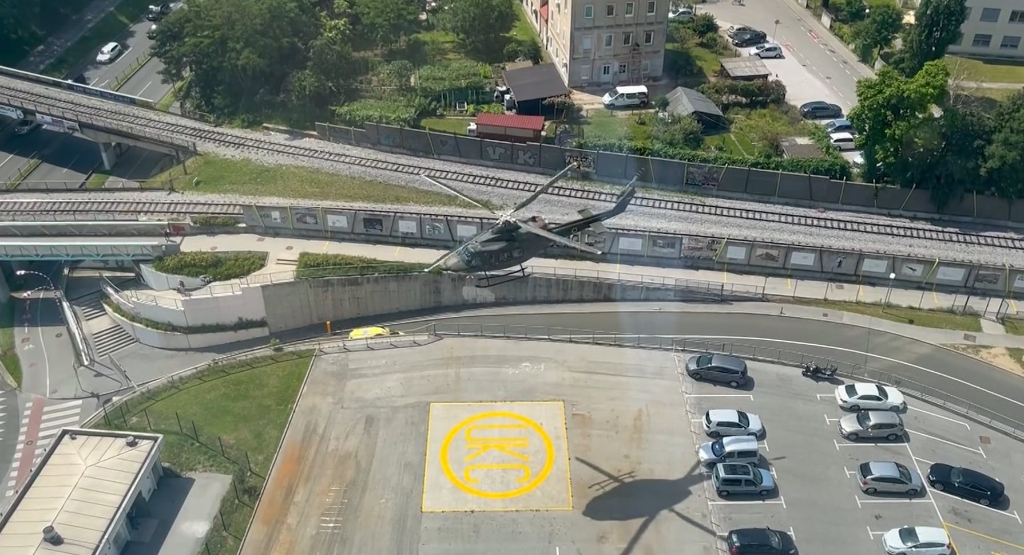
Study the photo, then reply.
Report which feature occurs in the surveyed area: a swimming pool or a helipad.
helipad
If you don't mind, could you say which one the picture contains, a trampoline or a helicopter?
helicopter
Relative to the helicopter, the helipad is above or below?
below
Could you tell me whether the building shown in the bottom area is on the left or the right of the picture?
left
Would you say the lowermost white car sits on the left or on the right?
right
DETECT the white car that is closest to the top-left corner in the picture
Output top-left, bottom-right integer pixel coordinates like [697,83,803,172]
[95,41,122,64]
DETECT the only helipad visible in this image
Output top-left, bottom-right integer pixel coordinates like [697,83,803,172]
[422,400,573,511]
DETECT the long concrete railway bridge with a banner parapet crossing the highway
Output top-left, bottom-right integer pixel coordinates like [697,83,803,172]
[0,64,197,170]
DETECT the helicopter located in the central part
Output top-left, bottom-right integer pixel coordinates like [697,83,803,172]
[415,156,640,290]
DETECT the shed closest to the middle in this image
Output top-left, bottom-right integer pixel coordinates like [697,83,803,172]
[475,113,545,143]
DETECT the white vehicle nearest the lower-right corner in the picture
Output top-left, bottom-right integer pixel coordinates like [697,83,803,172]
[879,525,954,555]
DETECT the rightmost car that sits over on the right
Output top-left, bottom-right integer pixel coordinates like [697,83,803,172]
[926,462,1007,506]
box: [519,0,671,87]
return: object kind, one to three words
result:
house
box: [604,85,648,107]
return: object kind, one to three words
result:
vehicle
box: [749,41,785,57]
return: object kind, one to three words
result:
car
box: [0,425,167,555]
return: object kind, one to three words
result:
building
